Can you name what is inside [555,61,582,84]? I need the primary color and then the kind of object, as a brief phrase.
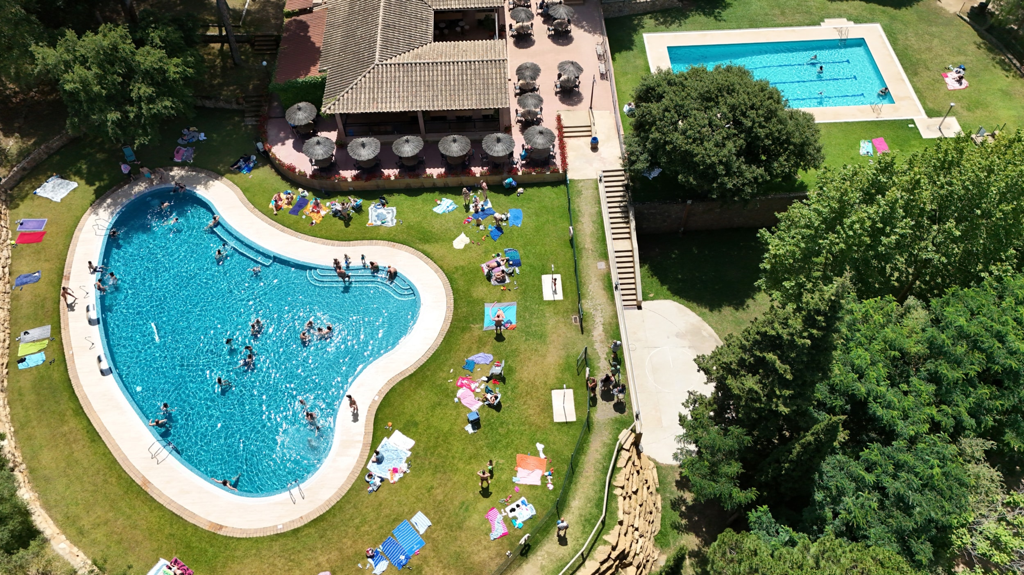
gray umbrella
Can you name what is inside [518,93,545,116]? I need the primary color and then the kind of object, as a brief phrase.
gray umbrella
